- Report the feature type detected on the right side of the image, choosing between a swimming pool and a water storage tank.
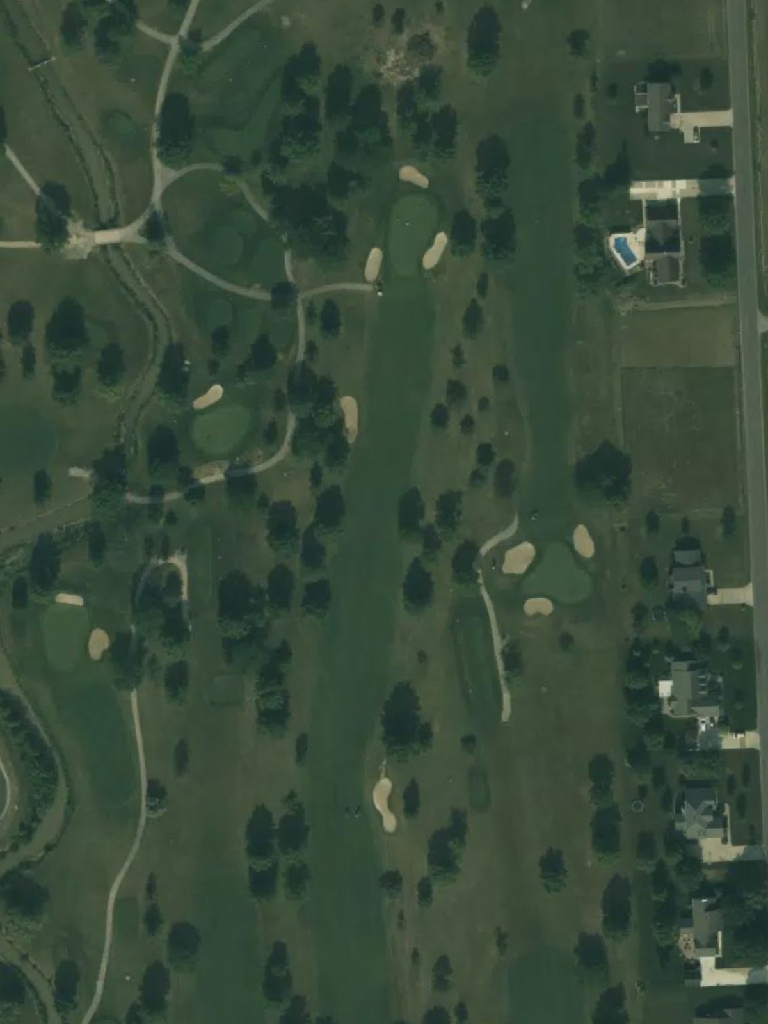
swimming pool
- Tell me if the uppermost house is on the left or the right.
right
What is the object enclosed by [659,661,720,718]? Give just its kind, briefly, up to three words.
house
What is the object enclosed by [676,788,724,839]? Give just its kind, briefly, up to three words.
house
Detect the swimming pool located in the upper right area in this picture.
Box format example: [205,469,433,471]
[609,228,645,273]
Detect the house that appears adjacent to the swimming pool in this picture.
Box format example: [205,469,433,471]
[646,218,680,284]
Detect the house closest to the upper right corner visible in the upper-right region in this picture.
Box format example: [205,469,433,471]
[635,81,674,132]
